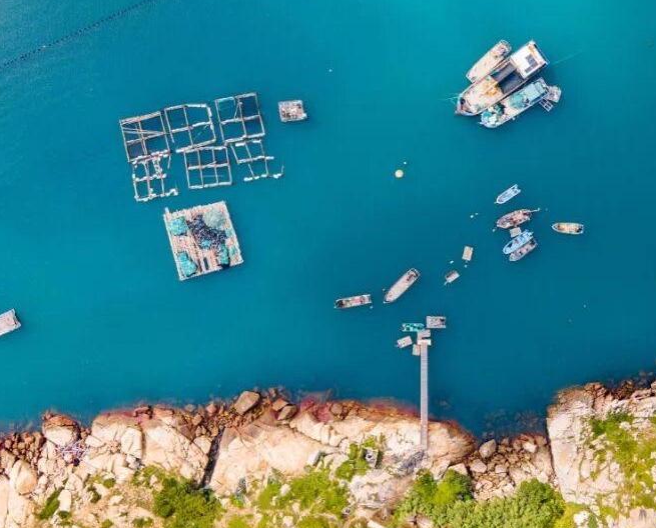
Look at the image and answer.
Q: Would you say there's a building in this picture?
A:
No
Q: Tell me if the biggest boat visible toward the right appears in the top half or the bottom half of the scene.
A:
top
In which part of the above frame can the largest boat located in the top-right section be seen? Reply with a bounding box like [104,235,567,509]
[455,38,551,115]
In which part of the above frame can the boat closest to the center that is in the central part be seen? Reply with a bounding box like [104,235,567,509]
[335,294,371,307]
